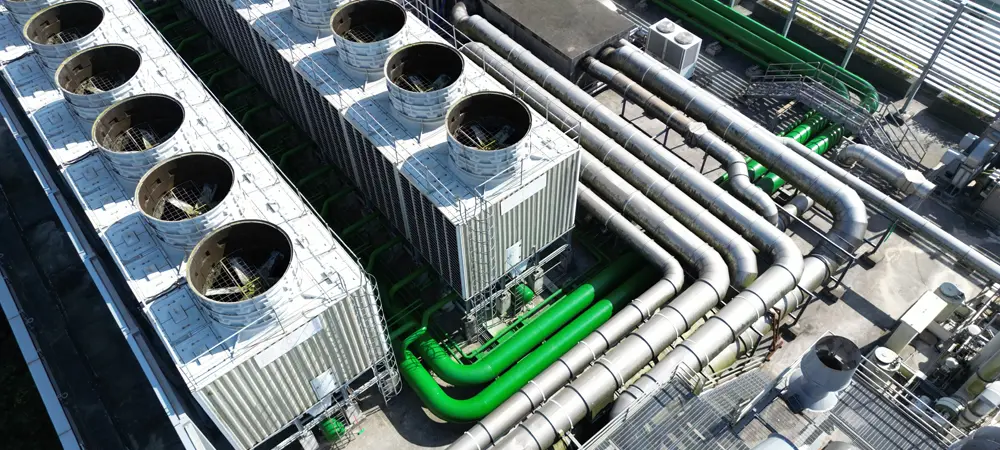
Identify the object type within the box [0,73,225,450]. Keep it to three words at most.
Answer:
building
